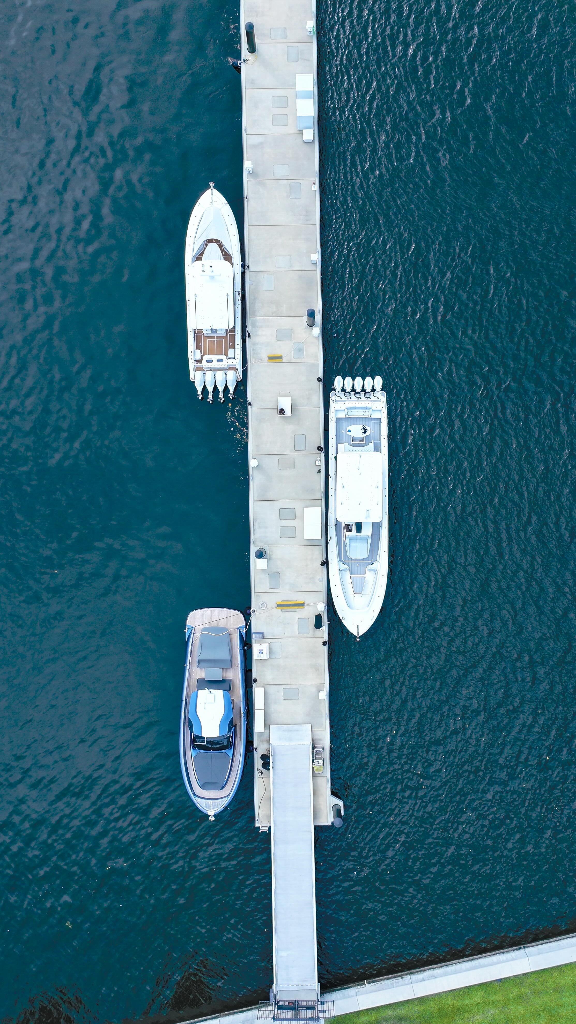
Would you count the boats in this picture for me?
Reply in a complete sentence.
In total, there are 3 boats in the scene.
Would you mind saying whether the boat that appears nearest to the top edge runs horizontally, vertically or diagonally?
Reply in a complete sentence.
The boat that appears nearest to the top edge runs vertically in the image.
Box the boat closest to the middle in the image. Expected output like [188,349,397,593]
[328,377,389,642]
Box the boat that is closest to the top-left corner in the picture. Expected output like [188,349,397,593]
[185,181,242,404]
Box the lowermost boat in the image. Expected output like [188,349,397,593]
[178,606,247,821]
